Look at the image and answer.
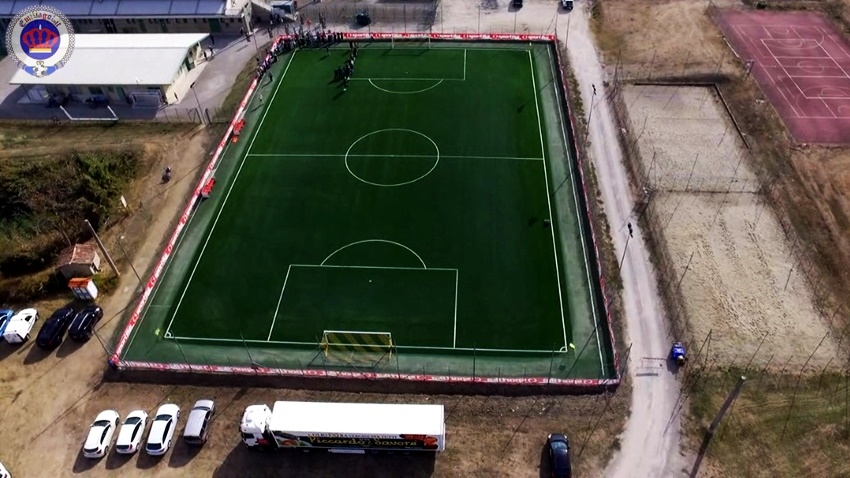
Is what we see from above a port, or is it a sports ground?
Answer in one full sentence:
What you see here is a sports ground.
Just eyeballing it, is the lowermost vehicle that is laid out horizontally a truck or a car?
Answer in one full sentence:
Specifically, the lowermost vehicle that is laid out horizontally is a truck.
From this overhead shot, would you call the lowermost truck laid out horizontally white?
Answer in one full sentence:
Yes, white is the color of the lowermost truck laid out horizontally.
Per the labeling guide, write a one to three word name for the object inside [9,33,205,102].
building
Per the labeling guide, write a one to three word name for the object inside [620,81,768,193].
sports court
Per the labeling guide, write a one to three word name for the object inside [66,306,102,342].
car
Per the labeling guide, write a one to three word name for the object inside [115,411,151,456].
car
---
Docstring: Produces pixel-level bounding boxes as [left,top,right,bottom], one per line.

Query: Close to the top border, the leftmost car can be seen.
[356,12,373,24]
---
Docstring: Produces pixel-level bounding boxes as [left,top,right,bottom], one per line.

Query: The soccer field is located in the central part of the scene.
[106,41,619,387]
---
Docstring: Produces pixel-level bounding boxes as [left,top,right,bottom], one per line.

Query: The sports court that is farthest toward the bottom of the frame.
[648,191,848,367]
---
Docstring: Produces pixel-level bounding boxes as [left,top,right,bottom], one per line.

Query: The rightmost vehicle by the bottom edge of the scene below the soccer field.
[545,434,573,478]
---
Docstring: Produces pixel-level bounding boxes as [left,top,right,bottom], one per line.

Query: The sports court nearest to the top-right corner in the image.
[709,8,850,145]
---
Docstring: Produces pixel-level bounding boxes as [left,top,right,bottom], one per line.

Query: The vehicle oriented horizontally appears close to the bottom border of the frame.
[239,402,444,456]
